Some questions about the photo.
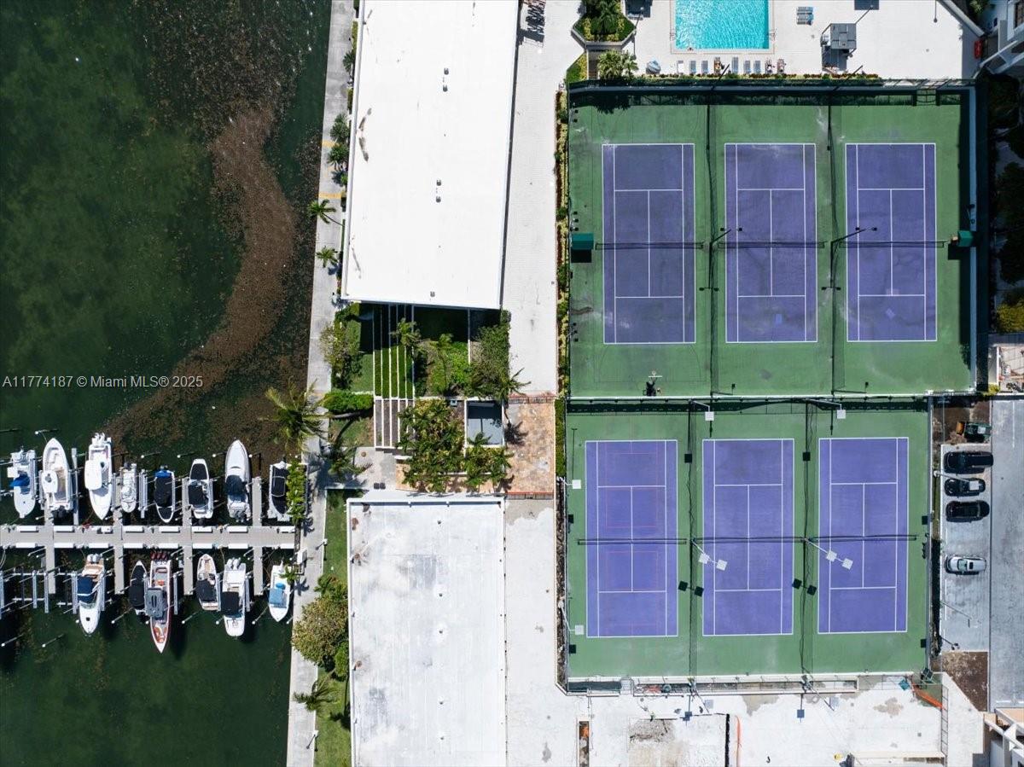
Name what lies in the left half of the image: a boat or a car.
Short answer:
boat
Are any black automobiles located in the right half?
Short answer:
Yes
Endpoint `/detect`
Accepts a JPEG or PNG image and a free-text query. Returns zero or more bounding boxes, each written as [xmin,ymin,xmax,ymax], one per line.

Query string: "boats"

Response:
[264,557,300,623]
[75,556,119,635]
[39,438,85,520]
[222,440,262,522]
[145,553,186,654]
[128,561,151,620]
[85,439,128,520]
[219,561,258,638]
[149,464,187,522]
[182,459,225,524]
[261,462,293,516]
[4,449,42,518]
[193,553,226,612]
[114,462,149,512]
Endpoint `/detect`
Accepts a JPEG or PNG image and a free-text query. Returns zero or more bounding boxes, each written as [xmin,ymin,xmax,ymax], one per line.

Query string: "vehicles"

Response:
[943,556,987,575]
[942,477,986,496]
[952,425,991,440]
[944,501,990,521]
[942,452,994,472]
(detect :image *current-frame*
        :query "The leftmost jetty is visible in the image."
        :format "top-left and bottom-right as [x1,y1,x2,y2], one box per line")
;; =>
[0,448,297,595]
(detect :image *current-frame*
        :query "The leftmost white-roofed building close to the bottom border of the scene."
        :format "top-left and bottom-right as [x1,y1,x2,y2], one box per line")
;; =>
[348,489,507,767]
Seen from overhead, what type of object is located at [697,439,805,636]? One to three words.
tennis court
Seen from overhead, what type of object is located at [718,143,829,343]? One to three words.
tennis court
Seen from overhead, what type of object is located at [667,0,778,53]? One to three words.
swimming pool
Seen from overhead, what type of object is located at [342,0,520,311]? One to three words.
building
